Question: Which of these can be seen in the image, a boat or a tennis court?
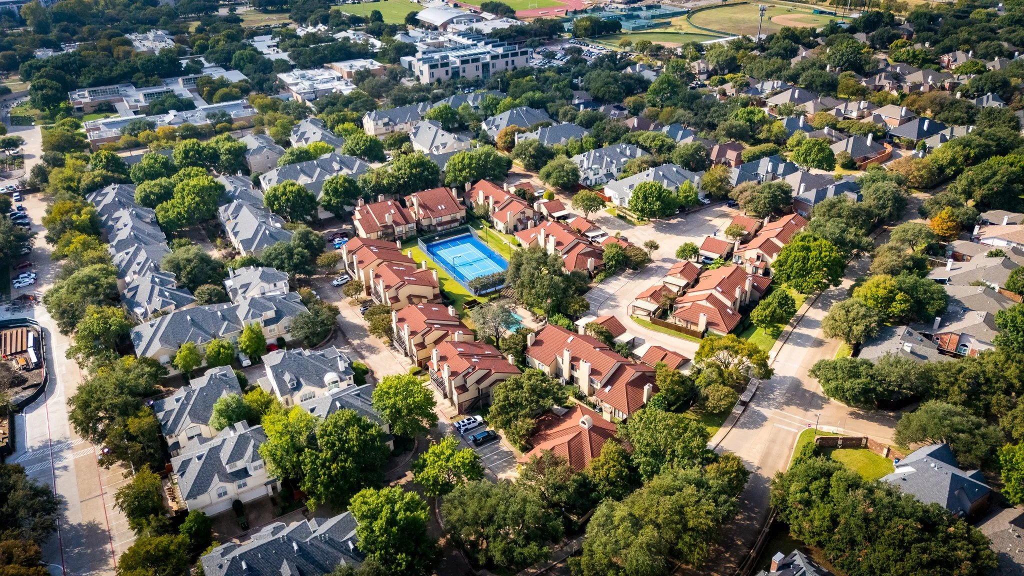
tennis court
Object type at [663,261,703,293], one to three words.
building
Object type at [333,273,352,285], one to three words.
vehicle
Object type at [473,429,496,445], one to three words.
car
